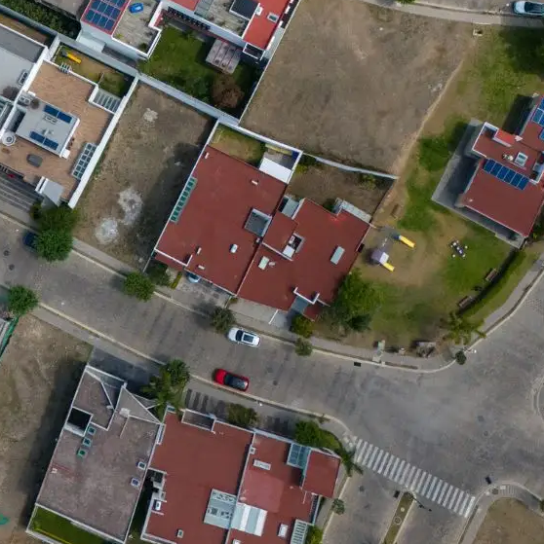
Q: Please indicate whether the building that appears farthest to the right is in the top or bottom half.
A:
top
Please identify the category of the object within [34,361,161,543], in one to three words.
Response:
house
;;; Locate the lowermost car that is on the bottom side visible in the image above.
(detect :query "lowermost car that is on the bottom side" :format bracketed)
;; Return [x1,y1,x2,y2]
[213,368,249,391]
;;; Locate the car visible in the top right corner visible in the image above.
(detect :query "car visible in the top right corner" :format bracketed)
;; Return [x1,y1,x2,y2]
[512,0,544,16]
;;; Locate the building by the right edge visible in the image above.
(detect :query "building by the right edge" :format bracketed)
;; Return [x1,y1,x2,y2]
[454,93,544,238]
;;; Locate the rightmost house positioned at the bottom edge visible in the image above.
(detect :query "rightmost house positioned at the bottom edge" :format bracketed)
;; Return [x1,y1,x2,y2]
[223,423,341,544]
